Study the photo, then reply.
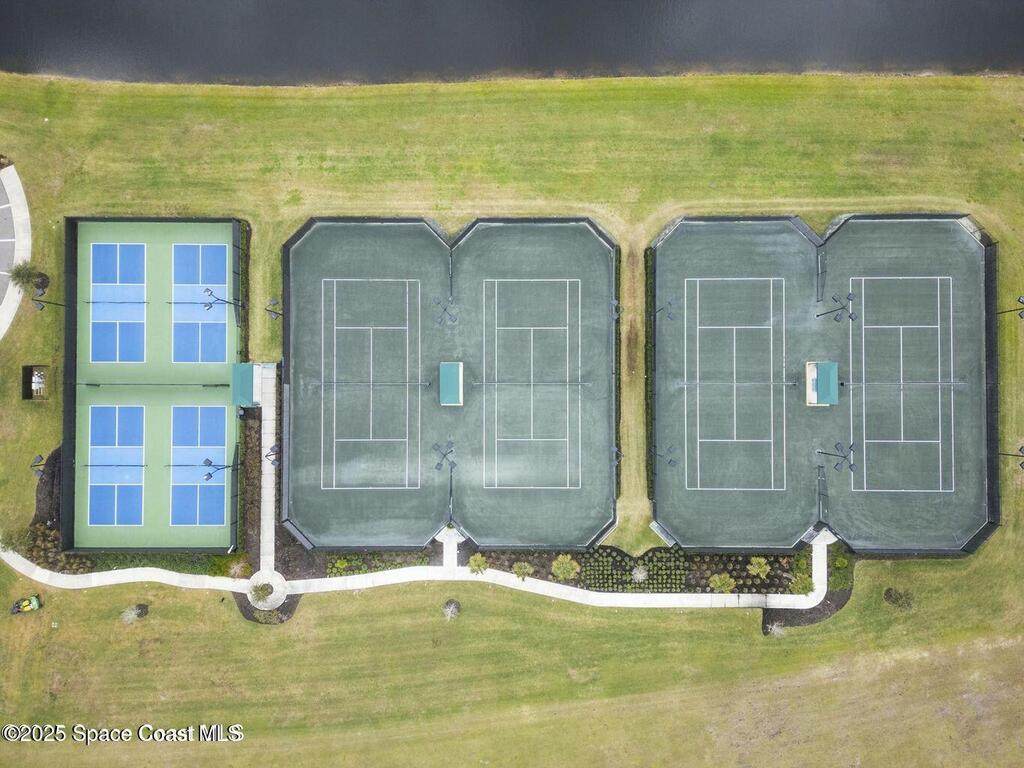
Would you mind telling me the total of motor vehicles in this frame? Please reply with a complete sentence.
I count 1 motor vehicle.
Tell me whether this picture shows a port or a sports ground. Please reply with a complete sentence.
This image shows a sports ground.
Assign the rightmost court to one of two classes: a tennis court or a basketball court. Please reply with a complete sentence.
It looks like the rightmost court is a tennis court.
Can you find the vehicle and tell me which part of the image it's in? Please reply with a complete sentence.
You can find the vehicle in the bottom left area of the picture.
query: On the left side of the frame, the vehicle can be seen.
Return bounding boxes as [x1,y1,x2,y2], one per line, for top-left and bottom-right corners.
[9,594,40,615]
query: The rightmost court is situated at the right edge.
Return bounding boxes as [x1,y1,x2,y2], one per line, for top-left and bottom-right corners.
[818,219,989,549]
